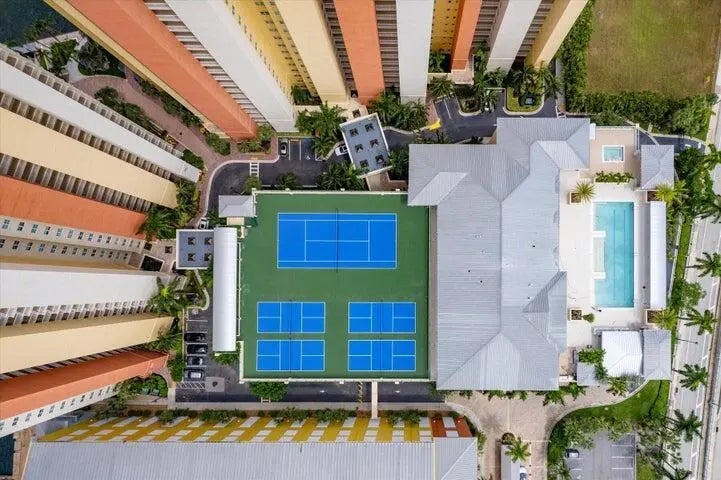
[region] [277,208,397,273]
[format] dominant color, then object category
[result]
blue tennis court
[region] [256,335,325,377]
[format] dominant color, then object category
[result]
blue sports court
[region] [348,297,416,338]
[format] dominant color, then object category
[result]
blue sports court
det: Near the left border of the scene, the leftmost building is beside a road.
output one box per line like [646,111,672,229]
[0,45,200,439]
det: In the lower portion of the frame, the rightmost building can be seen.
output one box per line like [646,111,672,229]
[641,329,672,381]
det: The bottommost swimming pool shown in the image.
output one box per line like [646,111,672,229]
[592,200,636,309]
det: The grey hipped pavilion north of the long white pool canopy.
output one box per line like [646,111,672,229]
[637,145,675,191]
